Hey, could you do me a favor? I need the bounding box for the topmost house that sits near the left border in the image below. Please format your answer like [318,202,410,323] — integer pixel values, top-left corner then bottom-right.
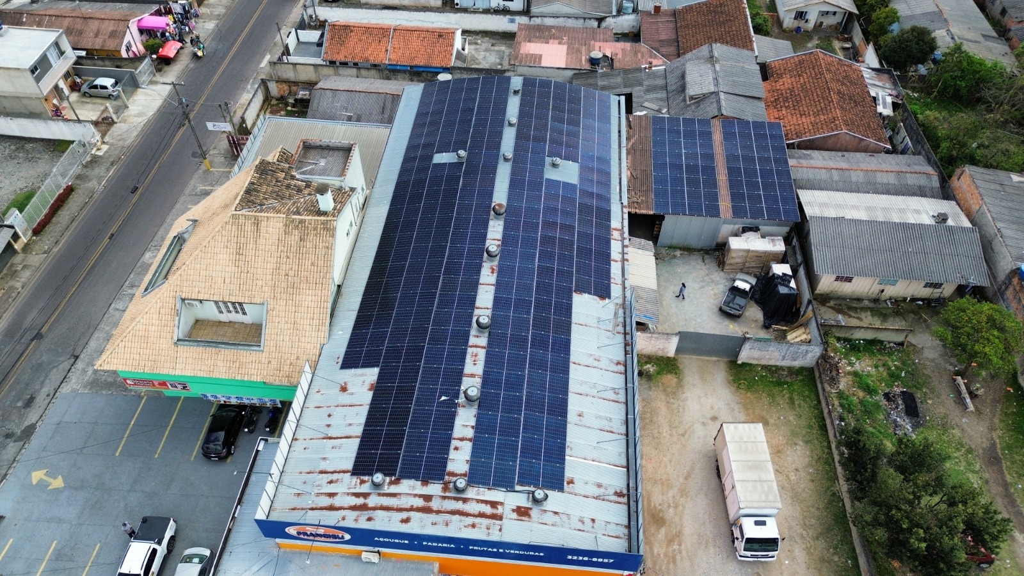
[0,0,165,69]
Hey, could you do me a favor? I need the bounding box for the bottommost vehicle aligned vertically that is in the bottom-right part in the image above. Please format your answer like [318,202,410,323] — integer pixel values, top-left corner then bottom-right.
[715,420,789,566]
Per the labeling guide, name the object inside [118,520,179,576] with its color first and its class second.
white truck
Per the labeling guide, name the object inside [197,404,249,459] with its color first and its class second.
black car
